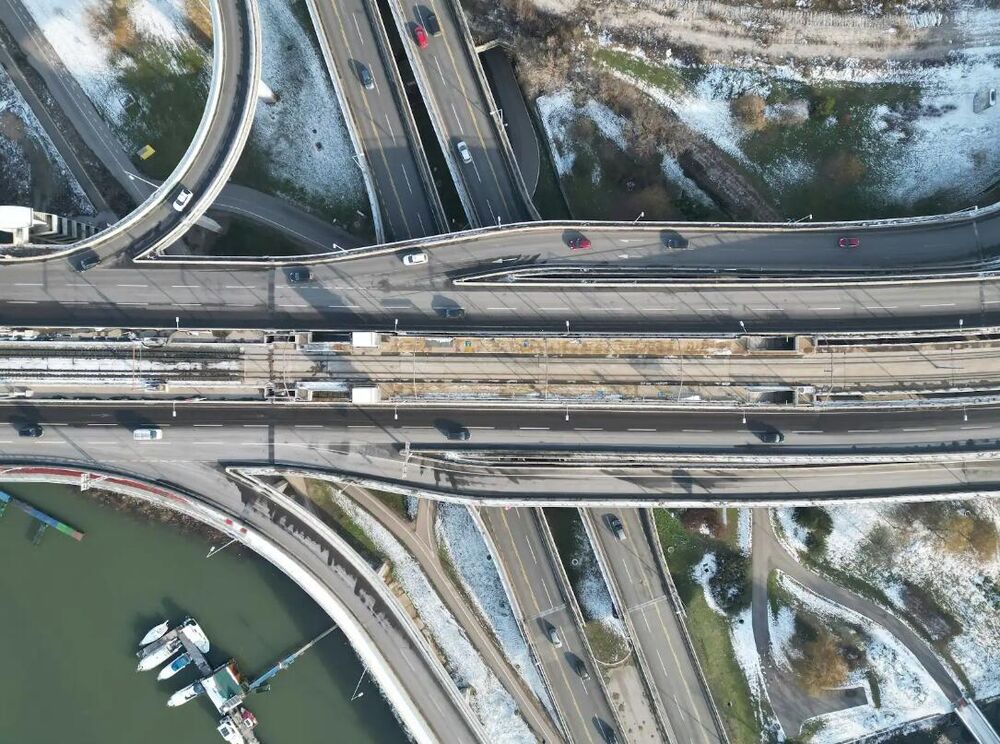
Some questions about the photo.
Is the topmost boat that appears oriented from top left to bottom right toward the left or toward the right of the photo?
left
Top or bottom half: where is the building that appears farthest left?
top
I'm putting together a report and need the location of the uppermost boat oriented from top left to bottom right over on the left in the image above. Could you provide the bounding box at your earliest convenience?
[180,617,211,655]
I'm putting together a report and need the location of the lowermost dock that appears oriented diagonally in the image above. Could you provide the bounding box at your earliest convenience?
[226,707,262,744]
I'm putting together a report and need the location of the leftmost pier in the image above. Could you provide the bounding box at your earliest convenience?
[0,486,85,543]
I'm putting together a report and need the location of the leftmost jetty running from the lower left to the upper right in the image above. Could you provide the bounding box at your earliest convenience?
[134,629,181,659]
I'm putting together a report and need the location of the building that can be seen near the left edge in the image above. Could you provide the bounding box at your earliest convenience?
[0,206,77,243]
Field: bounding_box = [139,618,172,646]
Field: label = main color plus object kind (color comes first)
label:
white boat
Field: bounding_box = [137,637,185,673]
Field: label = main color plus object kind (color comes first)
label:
white boat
